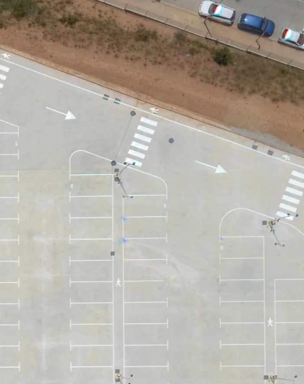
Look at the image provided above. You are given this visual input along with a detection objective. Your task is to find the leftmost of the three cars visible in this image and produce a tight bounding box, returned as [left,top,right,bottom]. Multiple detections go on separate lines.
[198,0,236,25]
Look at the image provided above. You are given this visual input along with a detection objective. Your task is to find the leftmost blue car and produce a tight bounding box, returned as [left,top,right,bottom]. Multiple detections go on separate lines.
[236,13,276,37]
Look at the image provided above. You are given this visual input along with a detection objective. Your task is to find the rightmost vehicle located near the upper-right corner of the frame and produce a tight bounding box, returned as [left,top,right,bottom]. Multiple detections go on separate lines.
[277,27,304,50]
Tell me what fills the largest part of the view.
paved ground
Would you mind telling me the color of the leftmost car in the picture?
white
